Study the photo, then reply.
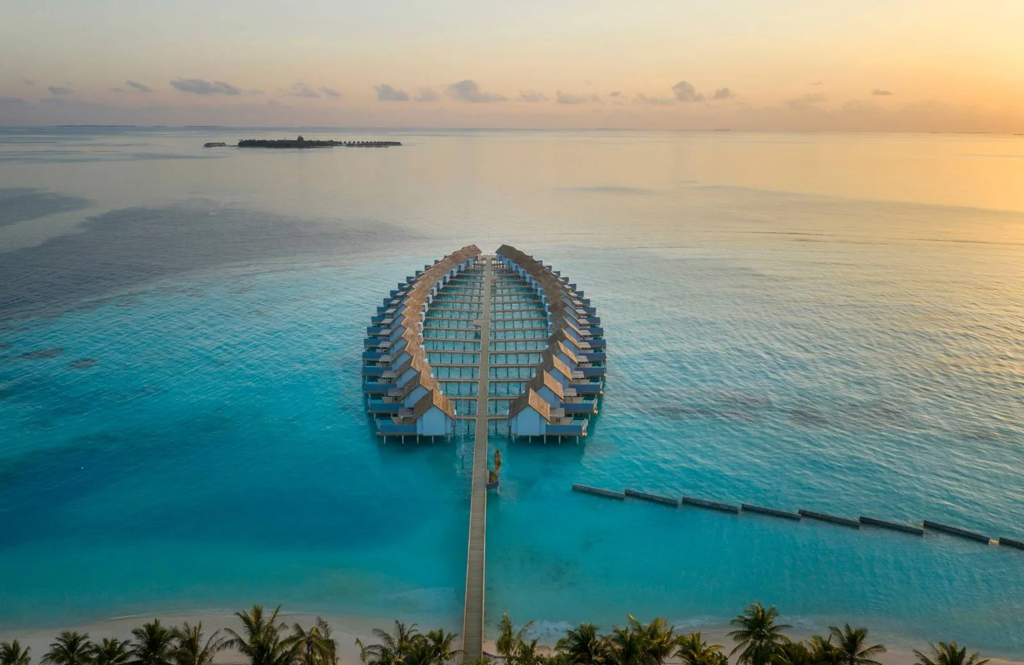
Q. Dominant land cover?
water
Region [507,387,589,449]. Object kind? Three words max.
house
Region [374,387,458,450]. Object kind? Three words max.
house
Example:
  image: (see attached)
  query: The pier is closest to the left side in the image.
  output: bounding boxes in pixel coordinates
[462,254,499,665]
